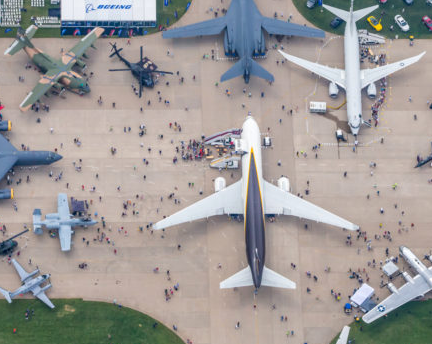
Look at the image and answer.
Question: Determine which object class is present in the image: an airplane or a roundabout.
airplane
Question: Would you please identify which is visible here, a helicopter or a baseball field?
helicopter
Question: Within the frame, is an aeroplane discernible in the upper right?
Yes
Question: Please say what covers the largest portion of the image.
paved ground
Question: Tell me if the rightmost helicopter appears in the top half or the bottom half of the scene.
top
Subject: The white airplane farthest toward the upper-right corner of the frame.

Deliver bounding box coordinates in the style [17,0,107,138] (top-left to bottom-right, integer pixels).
[278,0,426,135]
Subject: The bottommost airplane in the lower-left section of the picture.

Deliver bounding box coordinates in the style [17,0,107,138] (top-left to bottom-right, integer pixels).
[0,261,53,308]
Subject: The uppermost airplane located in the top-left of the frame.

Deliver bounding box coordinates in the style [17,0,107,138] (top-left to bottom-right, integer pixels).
[8,20,109,107]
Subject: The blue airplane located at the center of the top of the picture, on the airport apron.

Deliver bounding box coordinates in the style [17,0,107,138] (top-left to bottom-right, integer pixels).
[163,0,325,85]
